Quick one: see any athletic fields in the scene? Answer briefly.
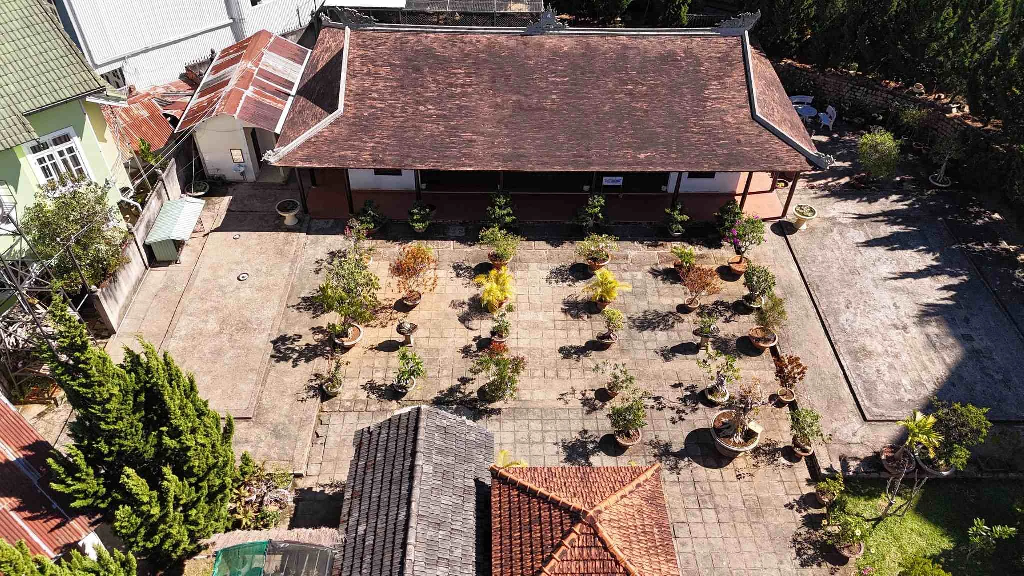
No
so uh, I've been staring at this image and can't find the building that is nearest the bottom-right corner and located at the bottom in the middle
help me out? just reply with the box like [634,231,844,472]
[487,461,684,576]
